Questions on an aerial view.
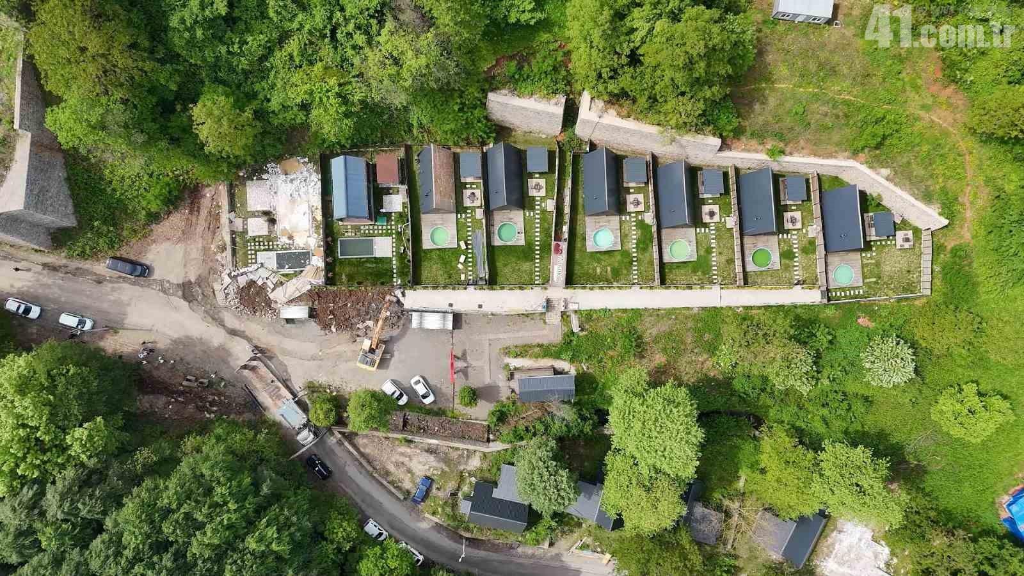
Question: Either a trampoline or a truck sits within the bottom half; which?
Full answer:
Looking within the bottom half, you will find a truck.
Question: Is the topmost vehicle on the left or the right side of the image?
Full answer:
The topmost vehicle appears in the left half of the scene.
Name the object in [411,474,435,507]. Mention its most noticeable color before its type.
blue car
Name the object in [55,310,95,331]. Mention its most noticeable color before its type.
white vehicle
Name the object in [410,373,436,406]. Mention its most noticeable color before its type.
white car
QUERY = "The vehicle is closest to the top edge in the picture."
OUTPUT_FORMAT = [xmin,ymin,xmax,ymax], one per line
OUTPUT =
[104,255,150,278]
